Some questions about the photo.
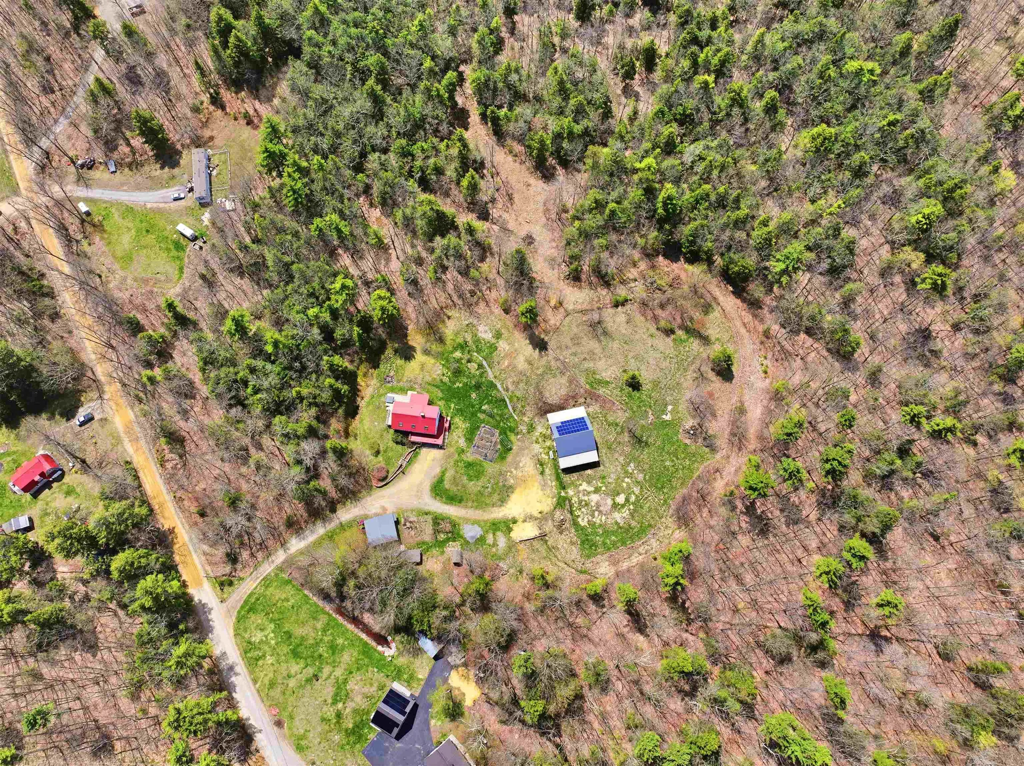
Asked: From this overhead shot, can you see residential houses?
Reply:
Yes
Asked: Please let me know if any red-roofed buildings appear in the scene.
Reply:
Yes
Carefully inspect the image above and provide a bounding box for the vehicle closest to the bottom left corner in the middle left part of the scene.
[74,412,94,425]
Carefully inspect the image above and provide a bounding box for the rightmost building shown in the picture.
[548,406,599,469]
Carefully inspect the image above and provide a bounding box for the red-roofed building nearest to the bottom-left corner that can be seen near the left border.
[10,449,61,499]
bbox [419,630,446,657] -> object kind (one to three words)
shed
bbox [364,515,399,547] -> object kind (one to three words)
shed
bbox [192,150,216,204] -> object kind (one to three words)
house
